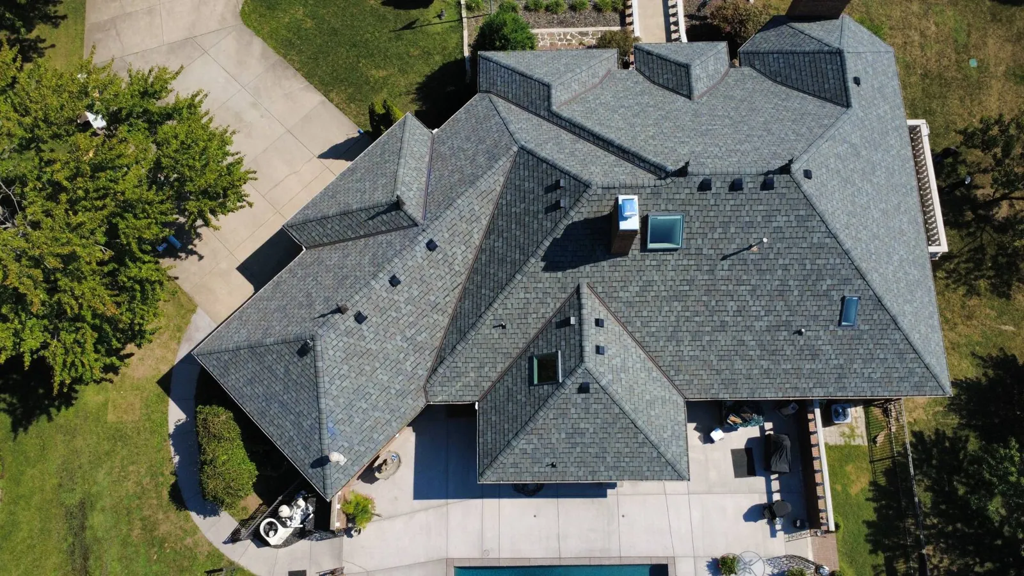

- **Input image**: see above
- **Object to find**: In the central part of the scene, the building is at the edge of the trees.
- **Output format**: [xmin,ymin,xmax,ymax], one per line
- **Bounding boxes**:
[193,0,956,503]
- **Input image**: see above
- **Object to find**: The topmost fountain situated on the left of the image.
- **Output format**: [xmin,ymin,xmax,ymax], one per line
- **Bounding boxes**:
[371,452,400,482]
